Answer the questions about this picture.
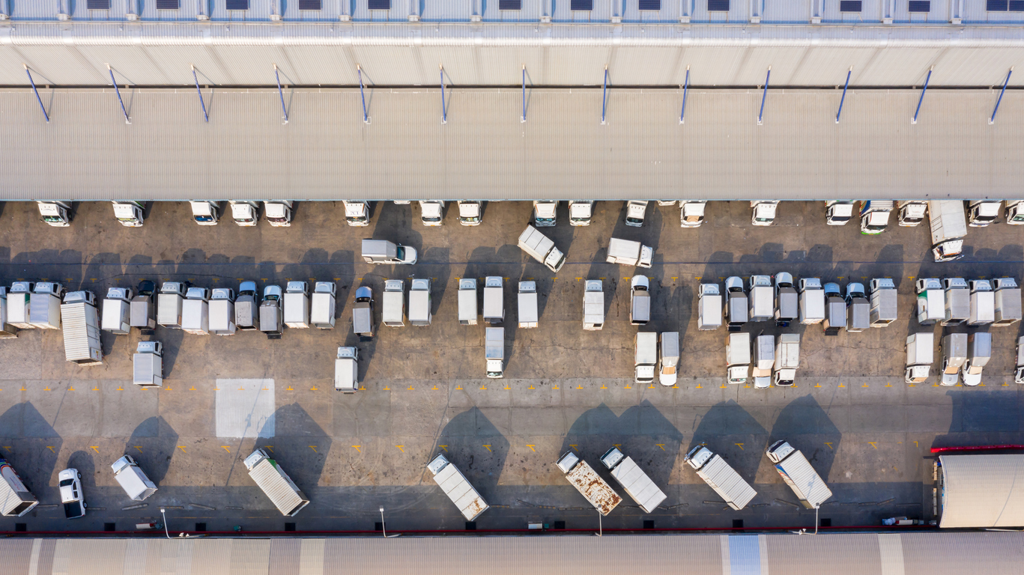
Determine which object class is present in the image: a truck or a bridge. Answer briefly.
truck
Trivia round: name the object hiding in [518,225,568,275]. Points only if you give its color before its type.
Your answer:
white truck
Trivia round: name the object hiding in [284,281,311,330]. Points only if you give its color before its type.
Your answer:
white truck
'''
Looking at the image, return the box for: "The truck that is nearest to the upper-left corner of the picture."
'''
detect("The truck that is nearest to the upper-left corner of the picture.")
[38,202,70,228]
